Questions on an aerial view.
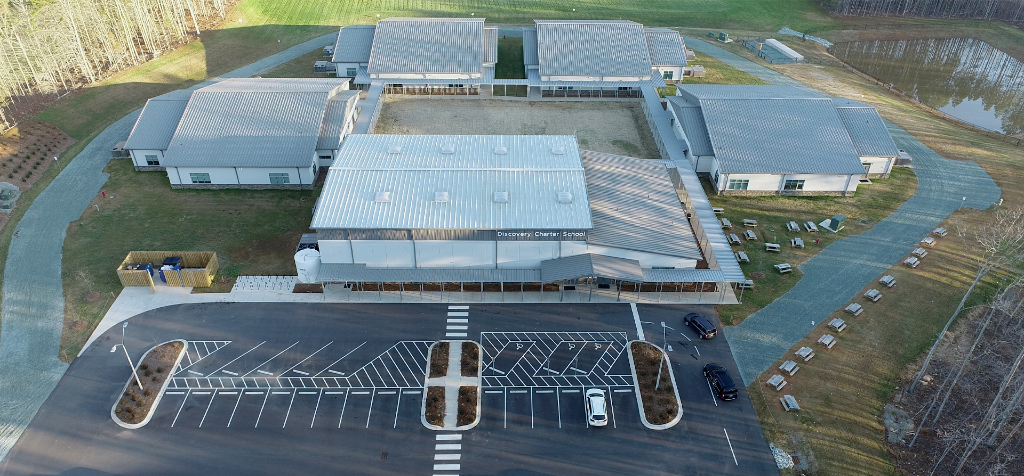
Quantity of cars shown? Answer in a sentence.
I count 3 cars.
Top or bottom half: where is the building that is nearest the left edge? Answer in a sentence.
It is in the top half that the building that is nearest the left edge appears.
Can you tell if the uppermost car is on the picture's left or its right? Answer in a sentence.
The uppermost car appears in the right half of the scene.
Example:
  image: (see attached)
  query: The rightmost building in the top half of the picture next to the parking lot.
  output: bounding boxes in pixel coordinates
[669,85,901,197]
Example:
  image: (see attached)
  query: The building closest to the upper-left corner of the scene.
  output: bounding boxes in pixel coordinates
[122,80,362,190]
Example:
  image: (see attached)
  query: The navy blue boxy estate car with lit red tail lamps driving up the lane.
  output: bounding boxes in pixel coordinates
[682,310,722,342]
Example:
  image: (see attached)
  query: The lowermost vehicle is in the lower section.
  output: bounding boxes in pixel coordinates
[585,386,608,423]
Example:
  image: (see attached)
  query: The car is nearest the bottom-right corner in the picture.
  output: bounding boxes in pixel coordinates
[704,363,741,403]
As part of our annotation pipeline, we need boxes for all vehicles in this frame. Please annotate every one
[585,386,608,423]
[704,363,741,403]
[682,310,722,342]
